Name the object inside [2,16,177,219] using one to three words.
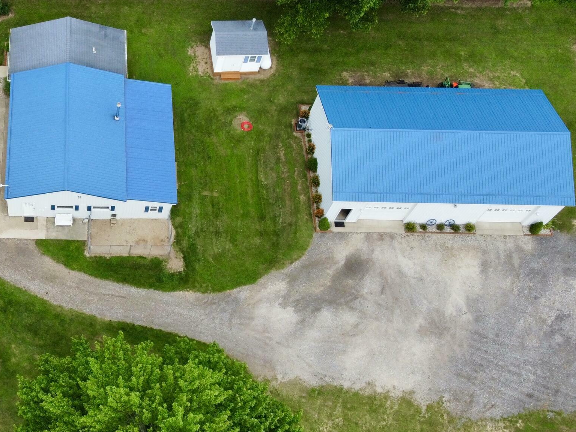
barn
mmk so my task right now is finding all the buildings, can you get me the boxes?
[2,16,177,219]
[210,18,269,79]
[309,85,575,228]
